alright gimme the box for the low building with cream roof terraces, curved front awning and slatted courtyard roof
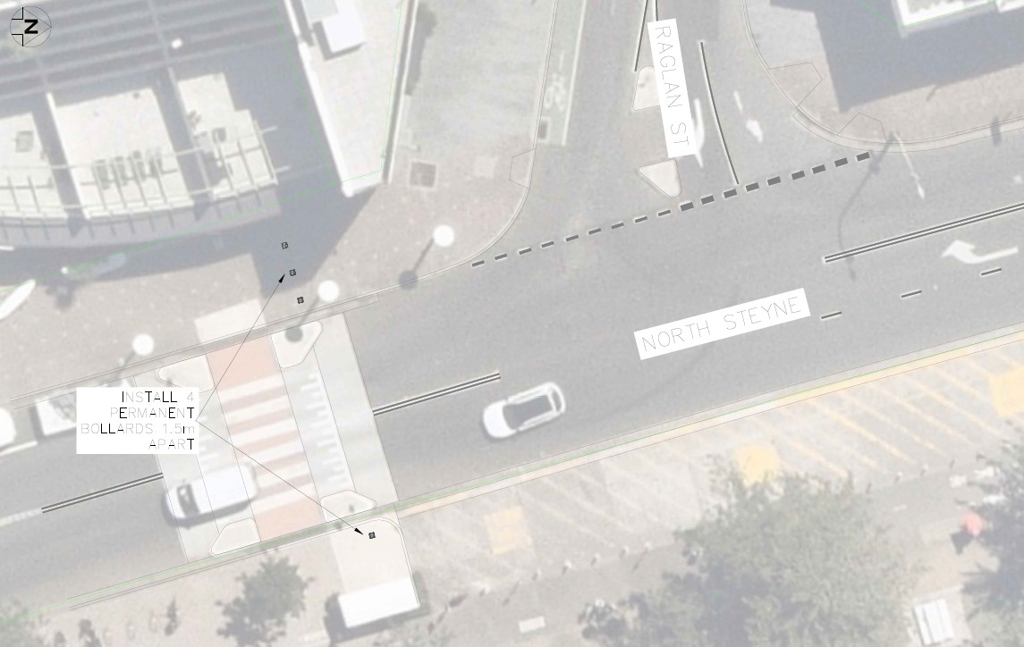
[0,0,291,247]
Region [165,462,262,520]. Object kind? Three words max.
van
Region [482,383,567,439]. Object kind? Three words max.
car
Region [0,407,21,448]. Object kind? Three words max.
vehicle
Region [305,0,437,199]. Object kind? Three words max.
building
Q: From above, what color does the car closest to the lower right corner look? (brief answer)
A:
white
